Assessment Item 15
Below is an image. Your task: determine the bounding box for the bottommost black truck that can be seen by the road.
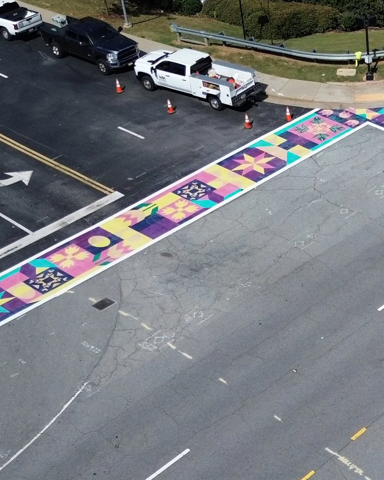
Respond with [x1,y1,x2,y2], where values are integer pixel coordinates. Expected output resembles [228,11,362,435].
[40,21,141,72]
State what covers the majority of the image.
paved ground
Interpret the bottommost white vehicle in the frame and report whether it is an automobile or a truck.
truck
